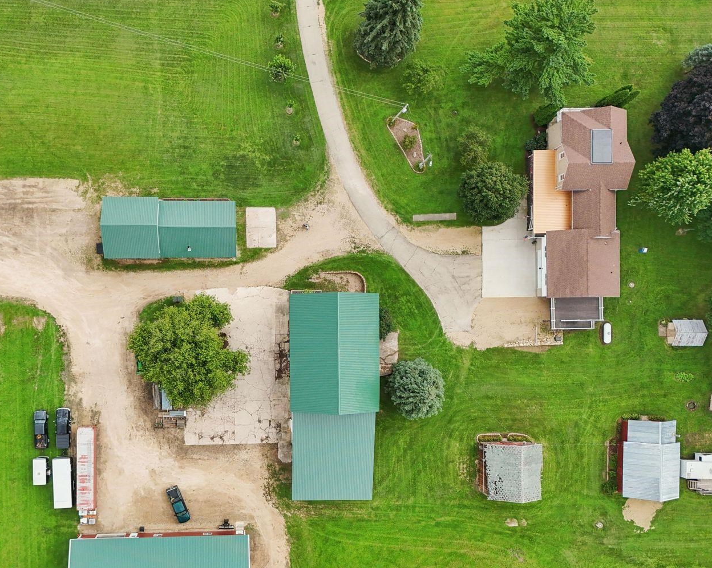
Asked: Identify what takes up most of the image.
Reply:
grass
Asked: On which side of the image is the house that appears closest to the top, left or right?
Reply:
right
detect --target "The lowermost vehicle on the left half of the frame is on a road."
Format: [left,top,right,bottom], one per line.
[165,484,192,524]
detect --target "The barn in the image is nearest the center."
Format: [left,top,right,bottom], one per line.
[290,292,380,415]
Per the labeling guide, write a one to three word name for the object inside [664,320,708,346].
shed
